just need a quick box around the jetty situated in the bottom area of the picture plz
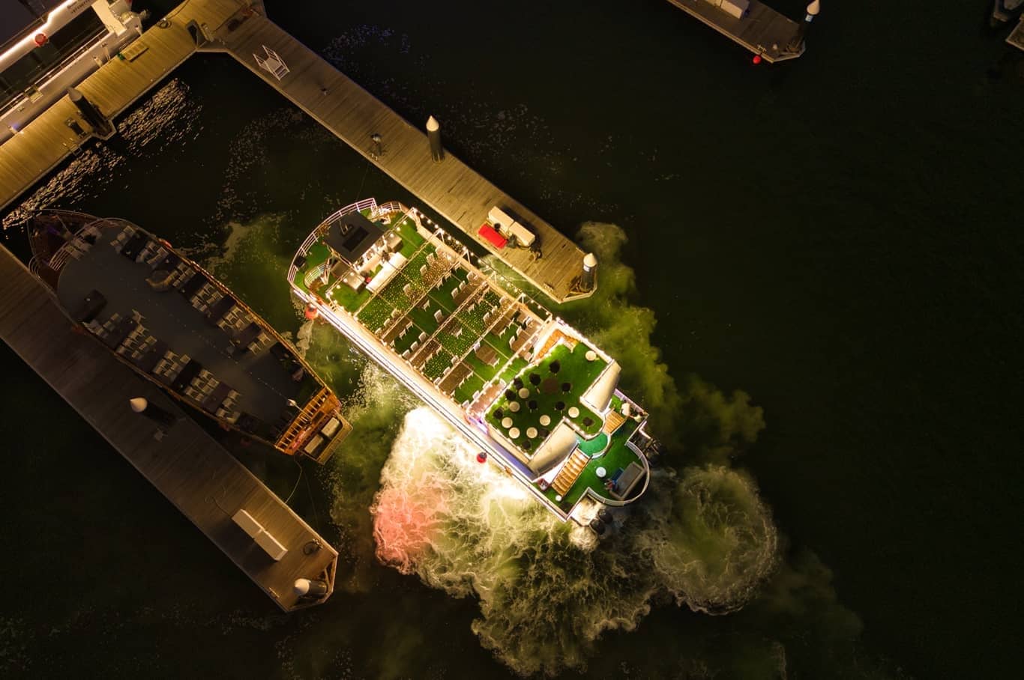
[0,240,341,614]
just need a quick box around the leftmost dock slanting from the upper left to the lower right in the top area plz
[226,16,599,305]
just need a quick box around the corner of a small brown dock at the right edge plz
[1002,15,1024,57]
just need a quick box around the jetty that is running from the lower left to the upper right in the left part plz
[0,0,269,218]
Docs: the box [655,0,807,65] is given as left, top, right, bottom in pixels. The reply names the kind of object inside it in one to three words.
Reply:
pier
